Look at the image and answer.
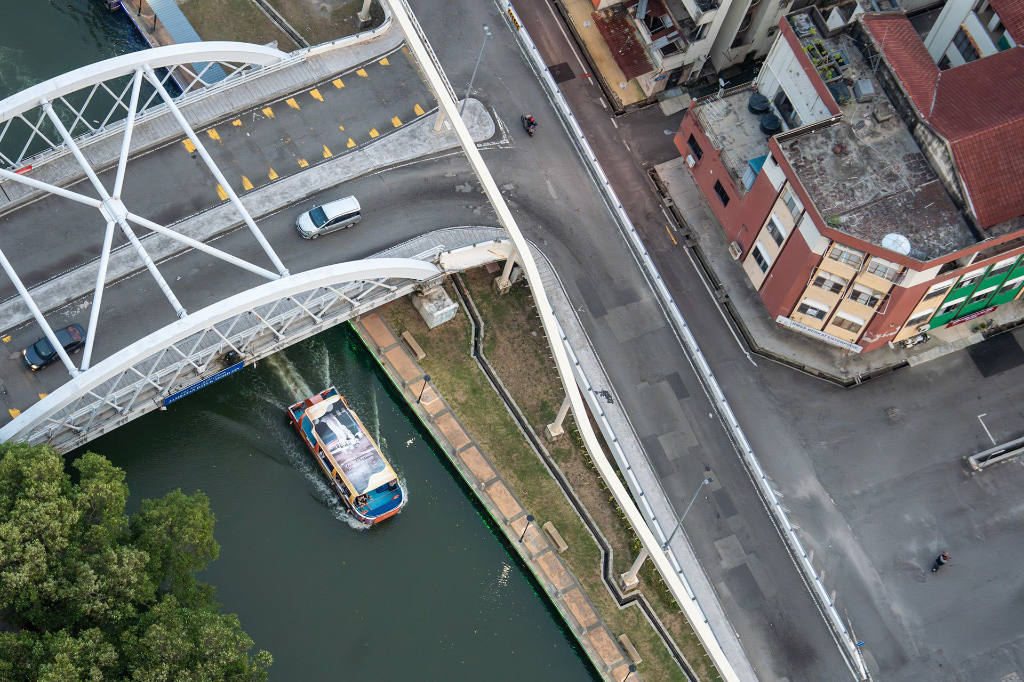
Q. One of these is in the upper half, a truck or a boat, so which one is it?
boat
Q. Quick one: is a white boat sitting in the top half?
No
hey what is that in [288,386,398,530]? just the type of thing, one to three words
boat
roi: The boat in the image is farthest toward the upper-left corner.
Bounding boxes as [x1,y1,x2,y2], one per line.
[95,0,126,21]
